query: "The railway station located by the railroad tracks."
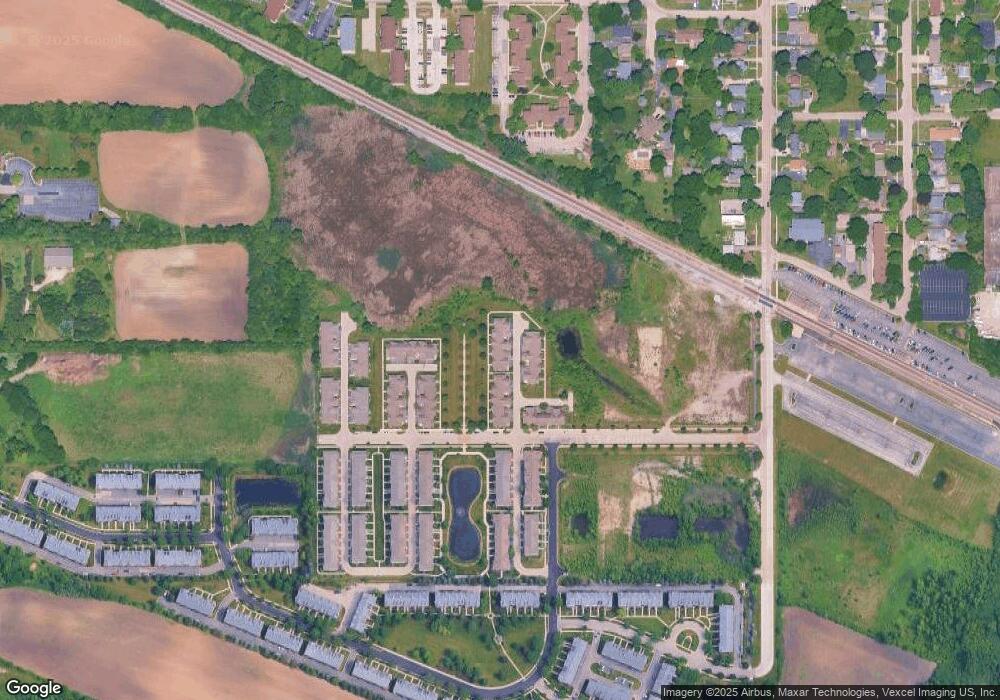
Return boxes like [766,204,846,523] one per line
[791,306,1000,418]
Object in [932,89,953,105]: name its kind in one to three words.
house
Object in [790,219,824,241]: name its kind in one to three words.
building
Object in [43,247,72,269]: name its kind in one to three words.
barn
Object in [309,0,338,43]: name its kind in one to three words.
building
